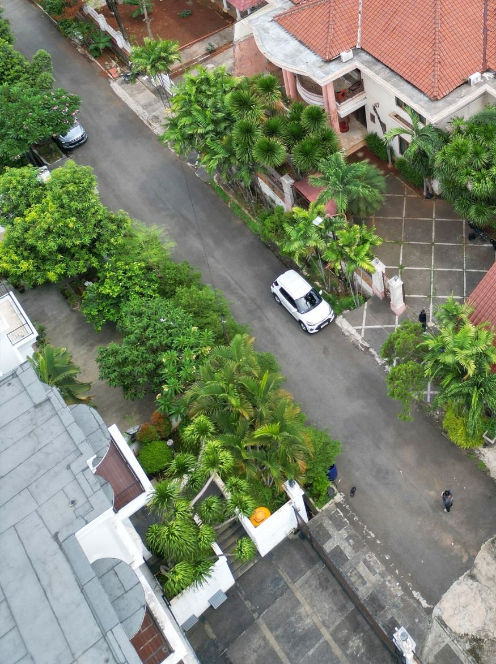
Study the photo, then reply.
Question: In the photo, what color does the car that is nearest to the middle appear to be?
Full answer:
The car that is nearest to the middle is white.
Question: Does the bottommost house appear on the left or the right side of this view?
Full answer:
The bottommost house is on the left side of the image.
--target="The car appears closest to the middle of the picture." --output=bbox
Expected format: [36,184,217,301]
[269,268,336,335]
